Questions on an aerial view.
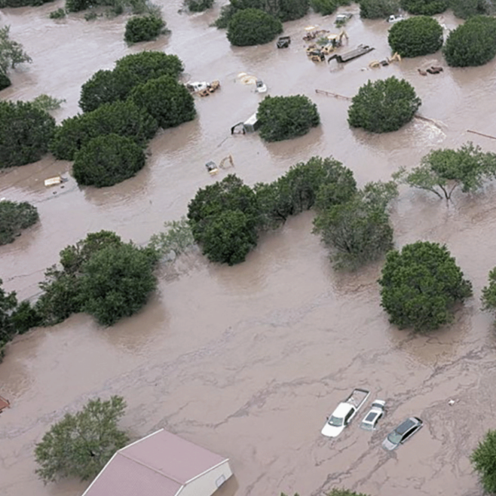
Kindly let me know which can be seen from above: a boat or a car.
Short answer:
car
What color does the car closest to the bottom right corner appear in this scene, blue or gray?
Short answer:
gray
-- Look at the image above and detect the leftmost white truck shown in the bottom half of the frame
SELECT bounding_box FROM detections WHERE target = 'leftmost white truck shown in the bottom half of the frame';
[324,389,368,435]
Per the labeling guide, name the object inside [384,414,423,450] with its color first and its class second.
gray car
